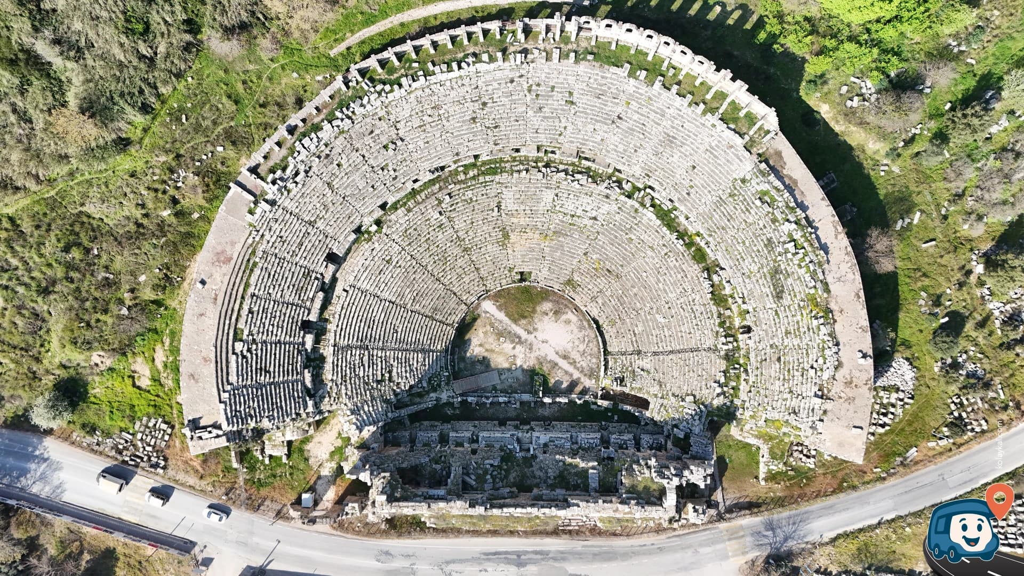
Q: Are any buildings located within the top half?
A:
No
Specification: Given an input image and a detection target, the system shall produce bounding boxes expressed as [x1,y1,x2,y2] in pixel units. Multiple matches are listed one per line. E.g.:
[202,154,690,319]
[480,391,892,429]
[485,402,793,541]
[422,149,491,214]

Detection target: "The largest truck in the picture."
[96,471,130,494]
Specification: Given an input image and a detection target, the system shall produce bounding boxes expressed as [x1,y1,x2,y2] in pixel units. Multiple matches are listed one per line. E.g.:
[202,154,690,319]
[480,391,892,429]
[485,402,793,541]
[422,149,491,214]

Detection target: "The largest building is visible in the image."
[341,418,712,531]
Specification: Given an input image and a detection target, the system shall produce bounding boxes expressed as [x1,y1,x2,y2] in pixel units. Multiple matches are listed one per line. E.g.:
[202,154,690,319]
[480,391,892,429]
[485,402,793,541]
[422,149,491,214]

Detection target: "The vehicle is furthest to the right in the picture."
[203,504,229,519]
